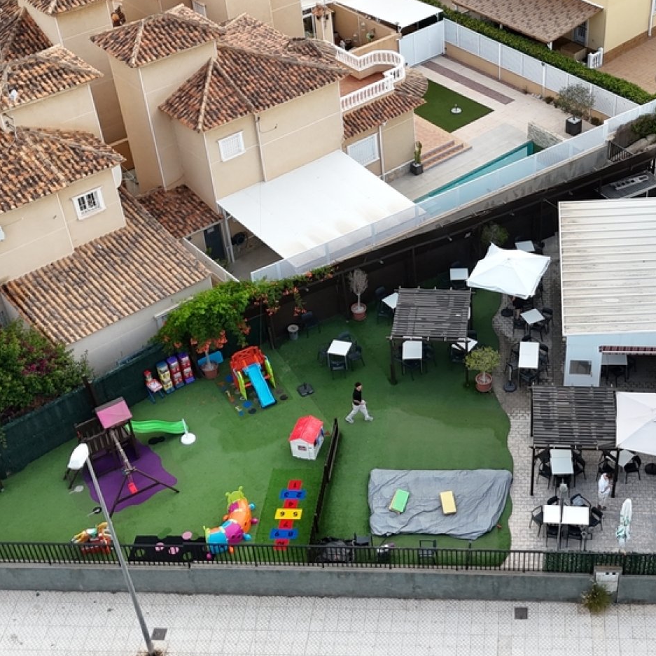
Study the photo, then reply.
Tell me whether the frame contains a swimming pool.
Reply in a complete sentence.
Yes, a swimming pool is visible in the scene.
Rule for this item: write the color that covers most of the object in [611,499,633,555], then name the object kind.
white umbrella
